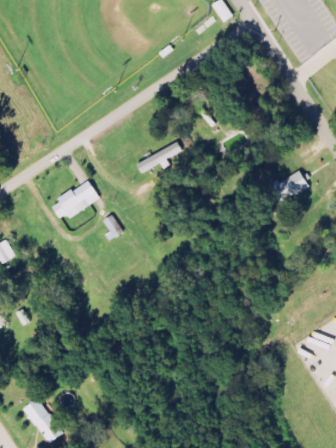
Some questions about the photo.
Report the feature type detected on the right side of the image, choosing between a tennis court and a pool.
pool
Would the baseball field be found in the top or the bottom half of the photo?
top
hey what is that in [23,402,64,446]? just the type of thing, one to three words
house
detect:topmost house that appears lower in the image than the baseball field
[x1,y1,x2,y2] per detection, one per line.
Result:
[136,142,183,173]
